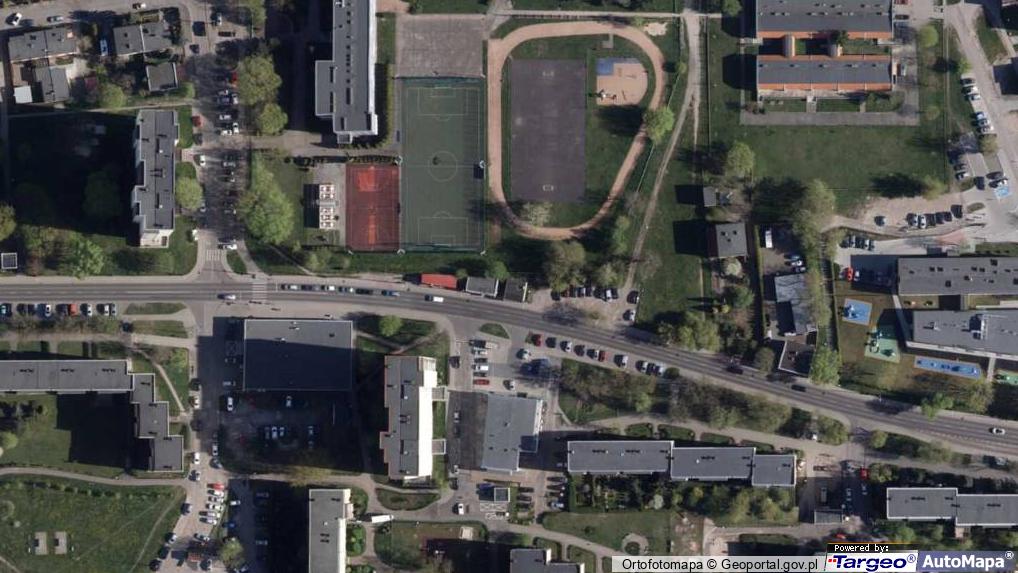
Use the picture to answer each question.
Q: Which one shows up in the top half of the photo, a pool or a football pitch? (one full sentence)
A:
You can see a football pitch in the top half of the photo.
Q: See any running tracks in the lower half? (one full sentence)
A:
No, there is no running track in the lower half.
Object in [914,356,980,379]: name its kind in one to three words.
playground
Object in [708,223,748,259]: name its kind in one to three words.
house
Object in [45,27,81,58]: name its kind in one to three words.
house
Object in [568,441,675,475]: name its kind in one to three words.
building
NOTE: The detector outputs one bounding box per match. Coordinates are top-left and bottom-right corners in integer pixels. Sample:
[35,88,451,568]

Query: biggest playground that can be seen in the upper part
[595,58,648,104]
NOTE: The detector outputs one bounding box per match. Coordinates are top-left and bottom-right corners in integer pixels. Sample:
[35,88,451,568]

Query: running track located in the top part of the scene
[487,21,665,241]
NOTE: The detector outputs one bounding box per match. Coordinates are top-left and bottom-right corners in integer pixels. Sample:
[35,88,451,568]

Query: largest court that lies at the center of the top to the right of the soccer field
[511,60,585,202]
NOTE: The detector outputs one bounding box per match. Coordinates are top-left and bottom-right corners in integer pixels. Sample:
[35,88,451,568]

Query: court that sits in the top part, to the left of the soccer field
[347,164,399,250]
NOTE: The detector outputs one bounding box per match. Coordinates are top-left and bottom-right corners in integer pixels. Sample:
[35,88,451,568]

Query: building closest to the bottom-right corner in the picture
[956,495,1018,528]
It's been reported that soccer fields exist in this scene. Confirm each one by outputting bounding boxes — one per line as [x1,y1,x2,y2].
[401,79,486,251]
